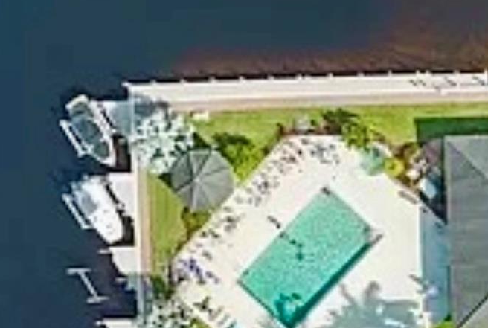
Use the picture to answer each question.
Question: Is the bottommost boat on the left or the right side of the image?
left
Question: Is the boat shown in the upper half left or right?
left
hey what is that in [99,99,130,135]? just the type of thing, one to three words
pier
